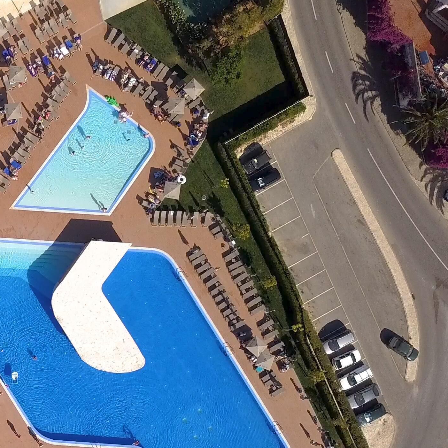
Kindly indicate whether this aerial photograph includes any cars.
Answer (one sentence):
Yes, looking at the shot, I can spot a car.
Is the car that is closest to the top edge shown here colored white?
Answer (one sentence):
No, the car that is closest to the top edge is black.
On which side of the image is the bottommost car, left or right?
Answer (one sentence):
The bottommost car appears in the right half of the scene.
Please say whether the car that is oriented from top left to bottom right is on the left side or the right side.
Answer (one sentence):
The car that is oriented from top left to bottom right is on the right side of the image.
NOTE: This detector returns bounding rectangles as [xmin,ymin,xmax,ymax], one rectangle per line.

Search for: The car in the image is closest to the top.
[238,146,278,177]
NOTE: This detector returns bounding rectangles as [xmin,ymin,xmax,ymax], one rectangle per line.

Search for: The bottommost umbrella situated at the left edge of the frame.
[2,102,23,122]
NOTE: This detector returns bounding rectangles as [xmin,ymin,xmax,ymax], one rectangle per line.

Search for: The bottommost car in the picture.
[355,400,388,425]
